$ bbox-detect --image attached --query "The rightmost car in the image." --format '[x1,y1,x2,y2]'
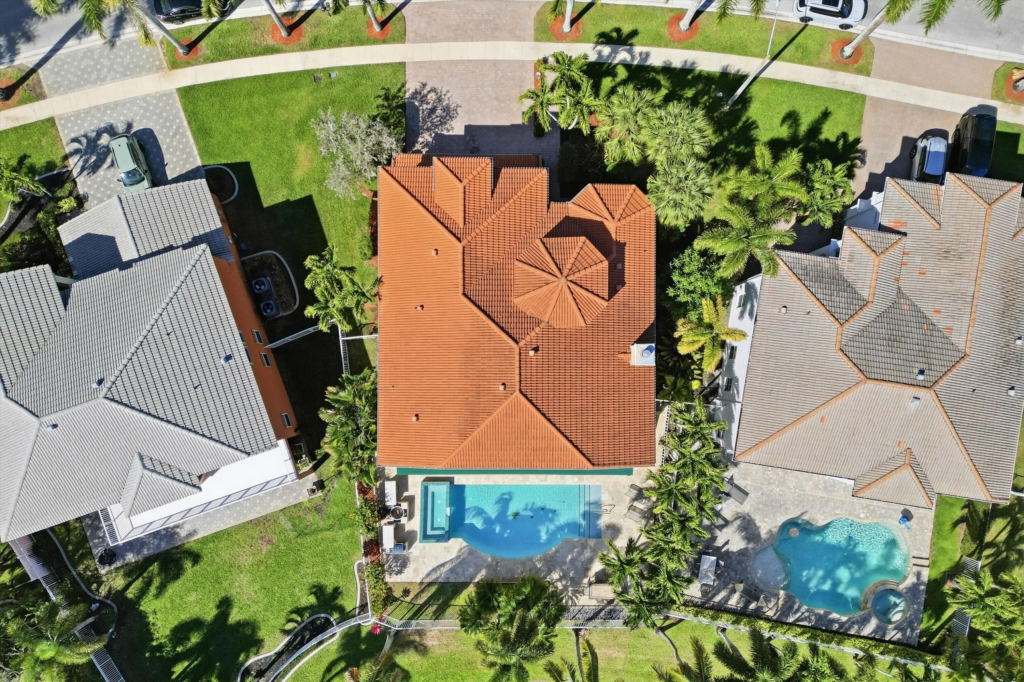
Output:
[946,104,999,178]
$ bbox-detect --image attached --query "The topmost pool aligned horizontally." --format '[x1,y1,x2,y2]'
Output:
[451,485,614,558]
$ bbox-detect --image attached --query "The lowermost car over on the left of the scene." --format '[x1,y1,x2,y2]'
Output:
[106,125,160,199]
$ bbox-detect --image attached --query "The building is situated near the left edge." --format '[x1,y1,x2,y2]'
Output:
[0,178,316,548]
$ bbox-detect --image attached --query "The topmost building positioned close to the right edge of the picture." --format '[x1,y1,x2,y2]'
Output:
[706,171,1024,510]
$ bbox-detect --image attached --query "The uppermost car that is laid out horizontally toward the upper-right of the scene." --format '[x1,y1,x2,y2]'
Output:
[791,0,863,29]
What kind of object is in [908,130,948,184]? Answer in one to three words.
car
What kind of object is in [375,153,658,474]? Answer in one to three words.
house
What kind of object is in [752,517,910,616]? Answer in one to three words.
swimming pool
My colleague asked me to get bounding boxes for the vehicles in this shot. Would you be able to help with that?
[946,104,999,178]
[106,125,160,199]
[908,130,948,184]
[791,0,863,29]
[160,0,238,26]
